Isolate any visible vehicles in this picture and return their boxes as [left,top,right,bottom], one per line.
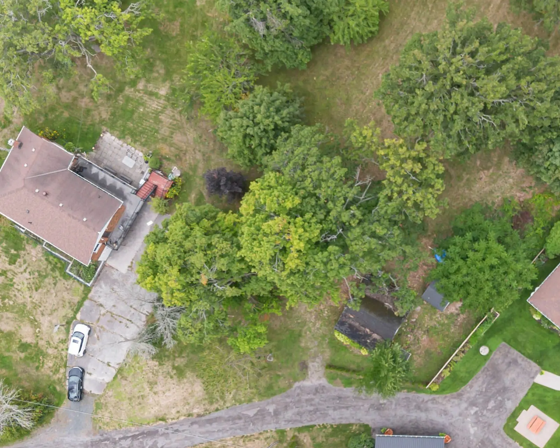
[69,321,93,359]
[65,365,85,402]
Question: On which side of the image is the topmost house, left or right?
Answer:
left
